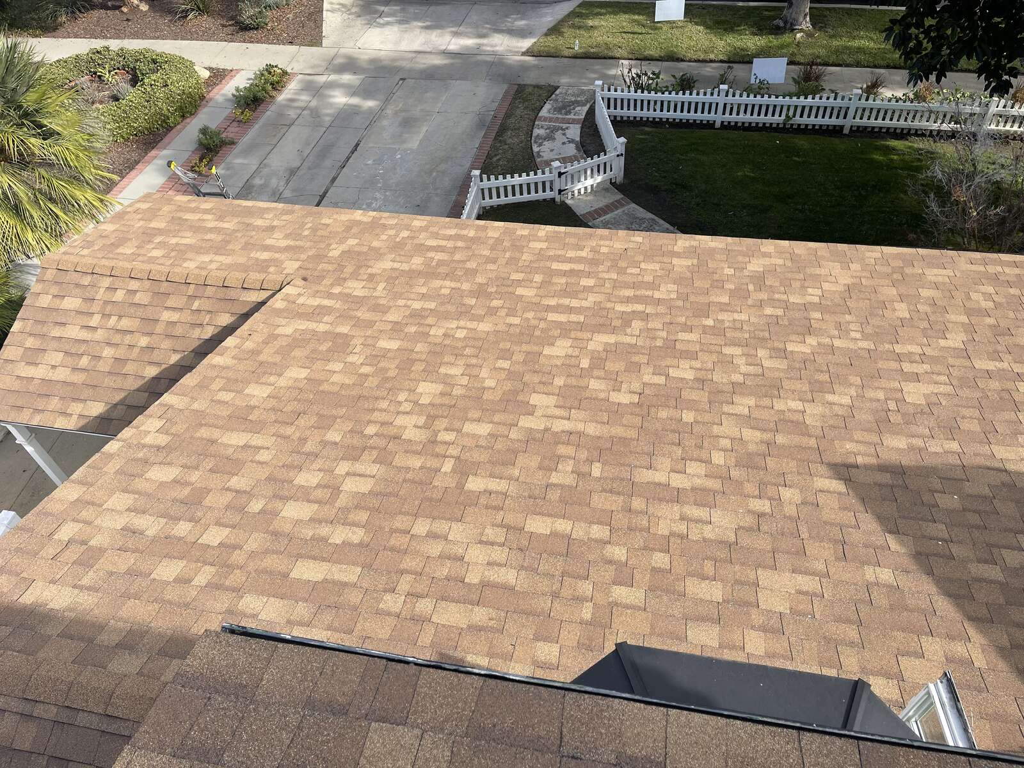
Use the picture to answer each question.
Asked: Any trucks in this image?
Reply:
No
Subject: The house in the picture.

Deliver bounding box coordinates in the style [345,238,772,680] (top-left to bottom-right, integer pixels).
[0,192,1024,768]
